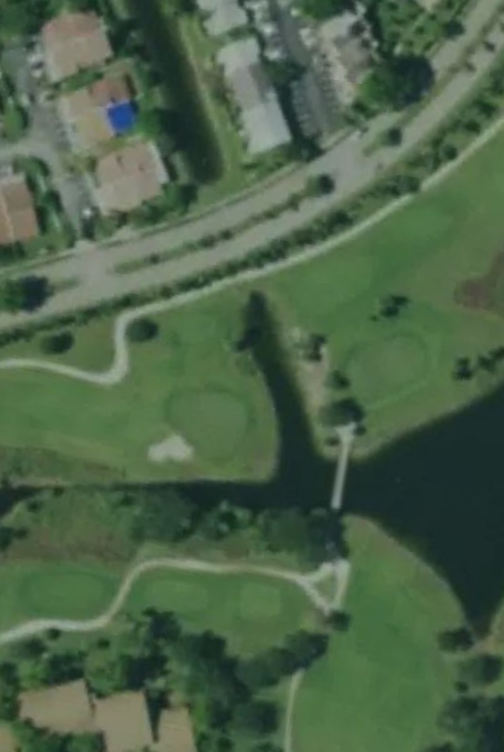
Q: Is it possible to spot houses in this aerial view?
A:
Yes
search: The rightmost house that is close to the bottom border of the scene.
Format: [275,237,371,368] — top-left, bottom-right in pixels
[158,709,196,752]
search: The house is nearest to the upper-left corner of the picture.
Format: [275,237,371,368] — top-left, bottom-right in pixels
[41,12,111,81]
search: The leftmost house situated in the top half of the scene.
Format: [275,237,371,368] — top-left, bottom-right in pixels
[0,174,36,243]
